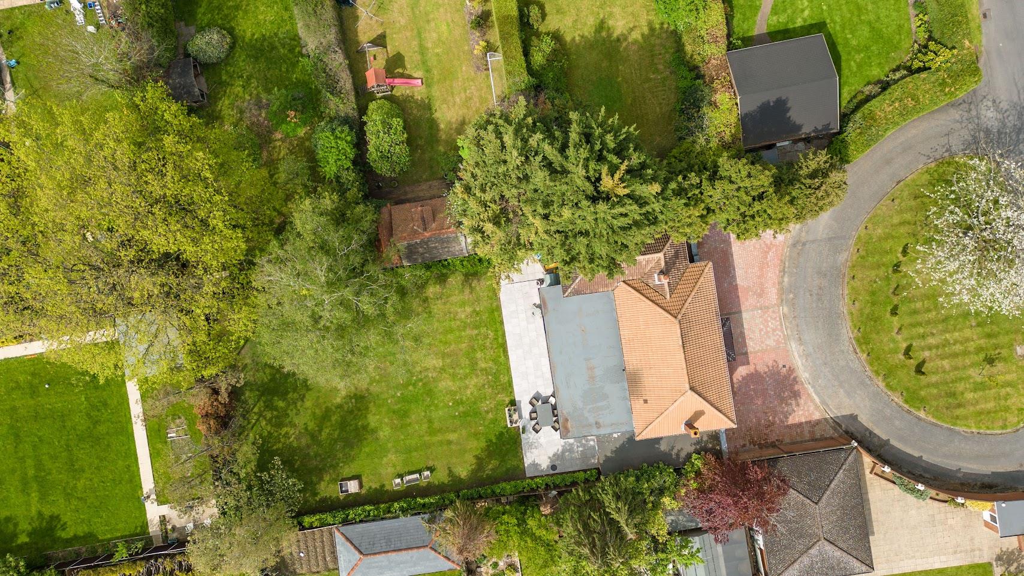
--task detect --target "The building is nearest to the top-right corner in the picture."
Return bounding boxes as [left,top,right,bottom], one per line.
[727,32,840,150]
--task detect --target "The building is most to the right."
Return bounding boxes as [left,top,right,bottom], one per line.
[970,489,1024,538]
